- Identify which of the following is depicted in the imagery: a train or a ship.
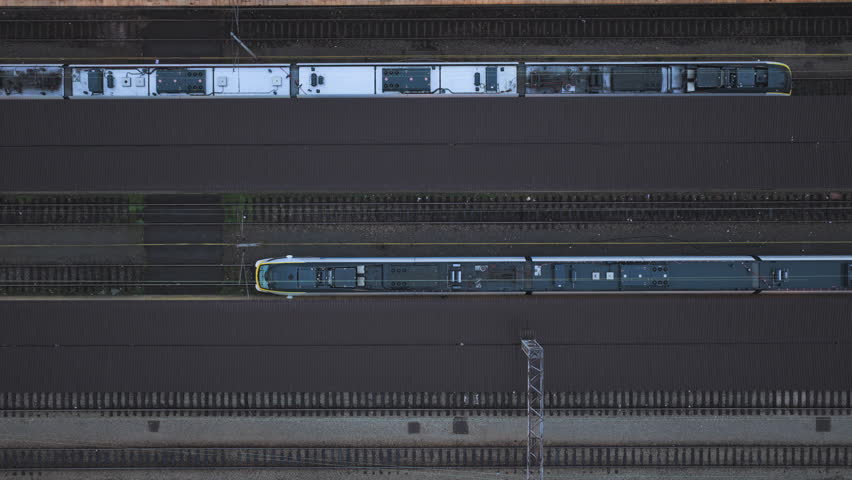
train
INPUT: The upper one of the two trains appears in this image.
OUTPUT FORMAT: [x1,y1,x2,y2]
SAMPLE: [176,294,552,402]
[0,60,792,99]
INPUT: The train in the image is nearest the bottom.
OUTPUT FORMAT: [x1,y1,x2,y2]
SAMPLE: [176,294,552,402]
[255,253,852,298]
